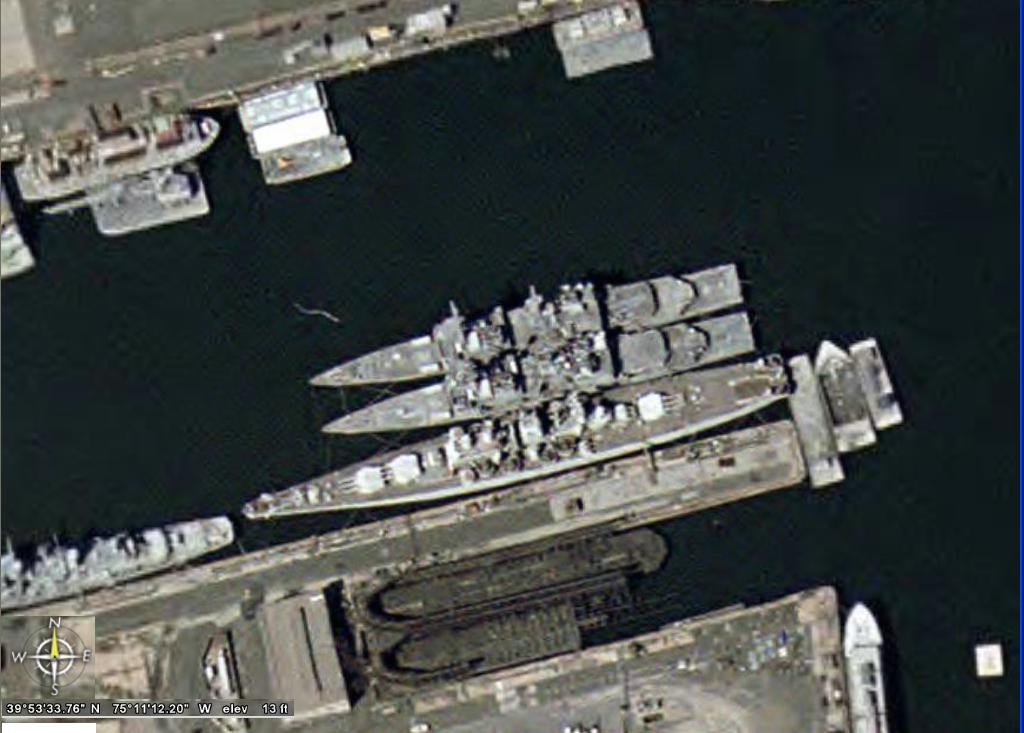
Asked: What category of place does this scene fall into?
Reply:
port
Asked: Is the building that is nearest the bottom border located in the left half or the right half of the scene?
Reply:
left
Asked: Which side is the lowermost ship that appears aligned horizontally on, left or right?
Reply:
left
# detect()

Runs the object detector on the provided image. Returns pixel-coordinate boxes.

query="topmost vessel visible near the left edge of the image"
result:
[15,104,219,201]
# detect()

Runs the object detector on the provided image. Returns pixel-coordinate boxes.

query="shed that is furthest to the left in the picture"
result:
[54,15,74,37]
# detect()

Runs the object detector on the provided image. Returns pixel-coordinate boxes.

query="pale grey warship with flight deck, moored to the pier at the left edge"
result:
[0,516,234,612]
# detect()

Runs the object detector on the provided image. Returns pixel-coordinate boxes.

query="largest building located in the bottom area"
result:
[263,591,350,725]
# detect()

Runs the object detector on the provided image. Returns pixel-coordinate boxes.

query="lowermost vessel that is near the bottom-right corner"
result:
[845,603,887,733]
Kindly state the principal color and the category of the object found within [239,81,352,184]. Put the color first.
white ship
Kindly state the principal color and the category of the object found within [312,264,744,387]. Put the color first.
gray vessel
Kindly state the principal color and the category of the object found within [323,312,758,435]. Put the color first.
gray vessel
